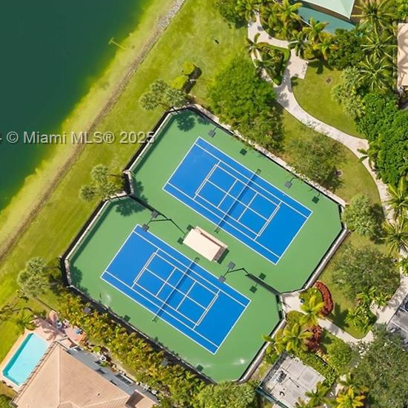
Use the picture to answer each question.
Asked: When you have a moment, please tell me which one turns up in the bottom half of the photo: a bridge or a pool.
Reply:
pool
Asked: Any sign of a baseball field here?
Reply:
No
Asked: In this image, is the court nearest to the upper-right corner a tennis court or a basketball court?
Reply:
tennis court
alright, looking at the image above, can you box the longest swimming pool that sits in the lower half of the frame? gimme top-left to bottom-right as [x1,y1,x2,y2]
[1,332,50,387]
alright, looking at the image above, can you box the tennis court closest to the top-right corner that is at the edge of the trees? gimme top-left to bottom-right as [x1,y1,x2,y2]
[128,107,343,294]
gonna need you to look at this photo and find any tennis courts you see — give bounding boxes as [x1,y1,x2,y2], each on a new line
[68,198,284,380]
[128,107,343,294]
